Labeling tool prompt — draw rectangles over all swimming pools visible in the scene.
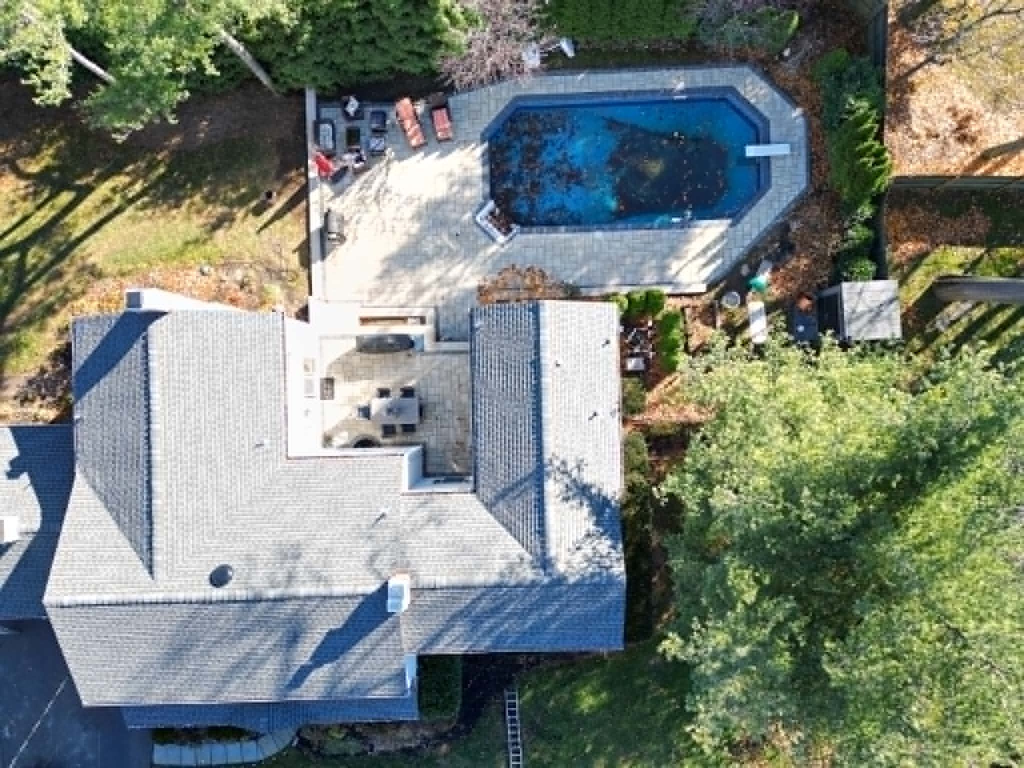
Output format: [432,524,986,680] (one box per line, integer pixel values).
[475,82,772,244]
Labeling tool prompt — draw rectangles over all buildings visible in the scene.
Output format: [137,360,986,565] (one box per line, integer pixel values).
[38,286,633,731]
[817,279,902,344]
